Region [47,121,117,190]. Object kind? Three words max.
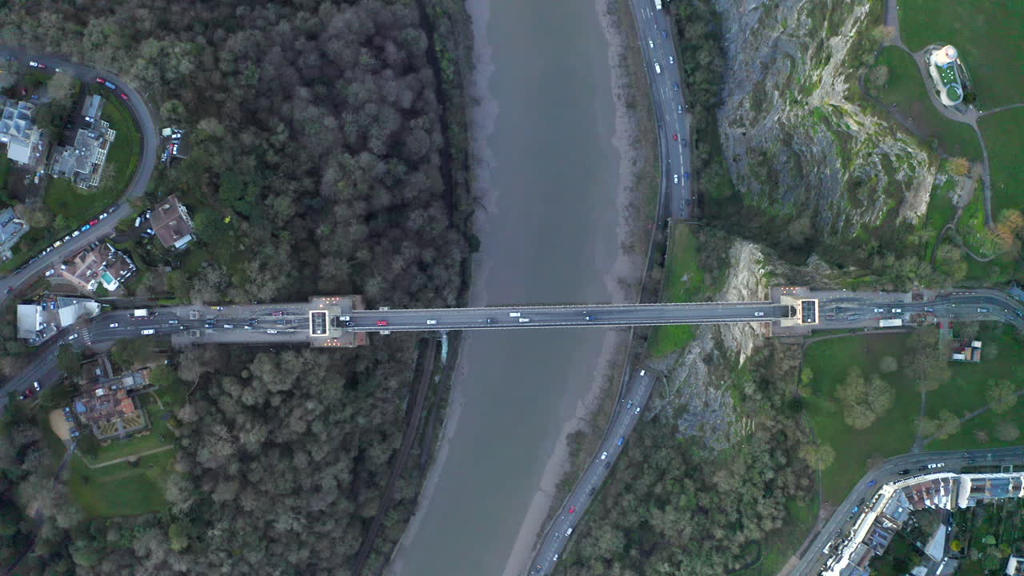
house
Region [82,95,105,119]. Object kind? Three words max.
building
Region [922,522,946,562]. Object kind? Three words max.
building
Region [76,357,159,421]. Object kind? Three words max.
house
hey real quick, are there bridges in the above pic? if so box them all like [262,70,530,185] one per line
[201,285,917,349]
